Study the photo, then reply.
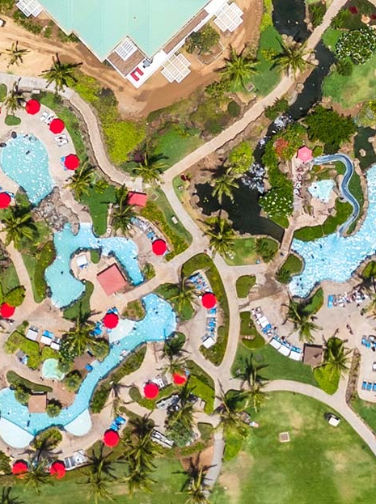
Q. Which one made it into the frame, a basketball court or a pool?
pool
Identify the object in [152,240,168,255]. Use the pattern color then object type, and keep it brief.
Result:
red umbrella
